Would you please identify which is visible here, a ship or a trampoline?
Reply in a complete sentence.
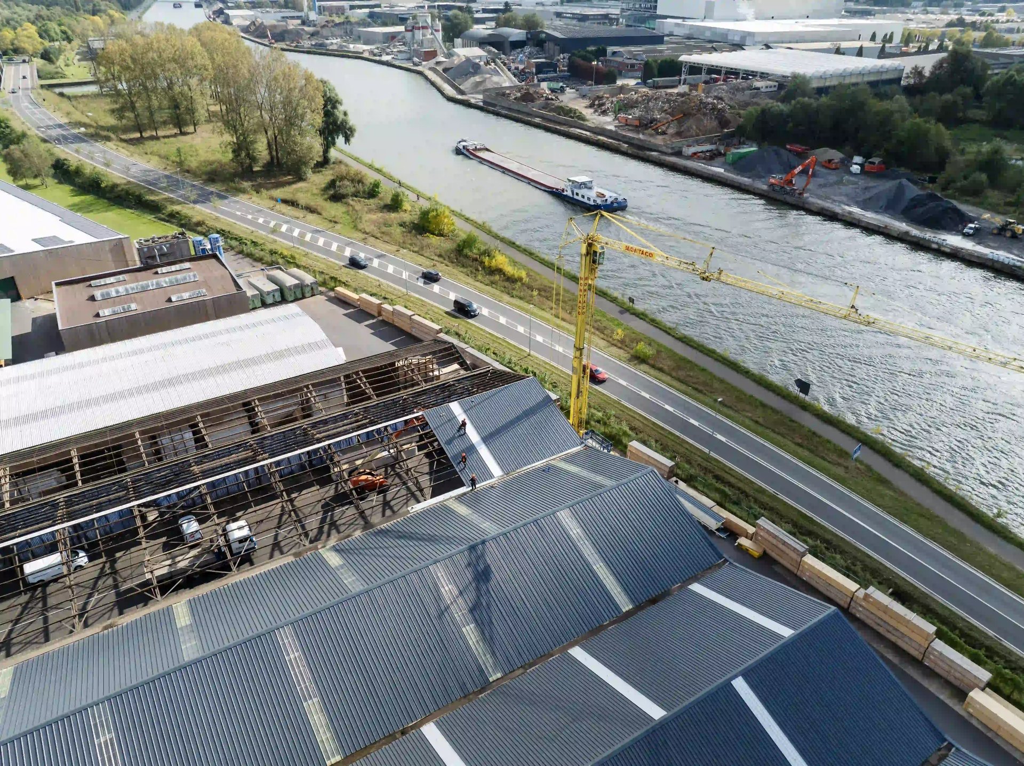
Visible in the photo is a ship.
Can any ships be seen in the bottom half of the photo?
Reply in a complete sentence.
No, there's no ship to be seen in the bottom half of the photo.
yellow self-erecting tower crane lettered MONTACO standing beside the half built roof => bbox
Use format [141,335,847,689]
[557,211,1024,446]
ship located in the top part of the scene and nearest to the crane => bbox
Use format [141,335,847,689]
[463,139,629,208]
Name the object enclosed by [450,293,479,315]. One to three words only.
vehicle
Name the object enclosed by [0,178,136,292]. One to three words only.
building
